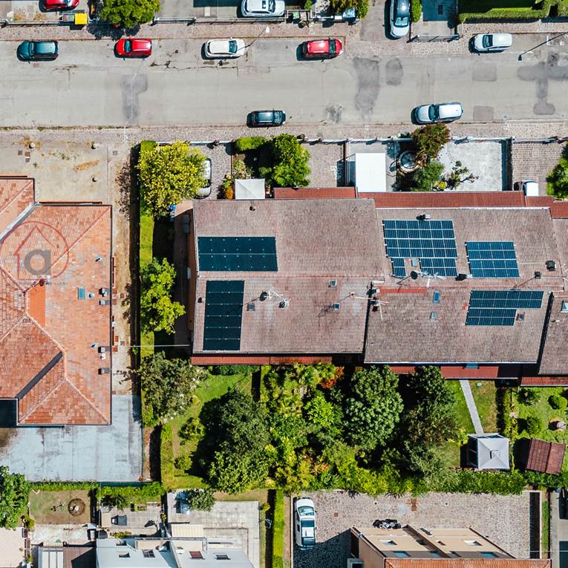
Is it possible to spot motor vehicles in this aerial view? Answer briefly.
Yes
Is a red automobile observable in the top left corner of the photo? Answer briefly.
Yes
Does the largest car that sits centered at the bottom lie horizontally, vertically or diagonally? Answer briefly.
vertically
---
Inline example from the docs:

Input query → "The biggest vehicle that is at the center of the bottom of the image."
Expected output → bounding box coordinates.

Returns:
[294,498,319,546]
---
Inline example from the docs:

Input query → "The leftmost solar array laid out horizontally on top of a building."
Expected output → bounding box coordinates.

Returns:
[197,236,279,270]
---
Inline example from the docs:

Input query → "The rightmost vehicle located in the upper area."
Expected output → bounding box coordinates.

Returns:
[523,180,545,206]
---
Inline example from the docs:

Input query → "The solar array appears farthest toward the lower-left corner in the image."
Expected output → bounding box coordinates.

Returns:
[203,282,245,351]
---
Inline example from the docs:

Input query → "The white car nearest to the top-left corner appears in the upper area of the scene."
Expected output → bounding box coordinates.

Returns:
[204,37,246,59]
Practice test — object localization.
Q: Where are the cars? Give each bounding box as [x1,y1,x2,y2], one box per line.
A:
[294,498,319,546]
[387,0,412,38]
[204,37,246,59]
[301,37,341,59]
[248,108,284,128]
[240,0,283,17]
[412,102,463,124]
[195,155,216,198]
[42,0,79,12]
[116,37,152,58]
[19,38,59,60]
[523,180,545,206]
[469,31,512,52]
